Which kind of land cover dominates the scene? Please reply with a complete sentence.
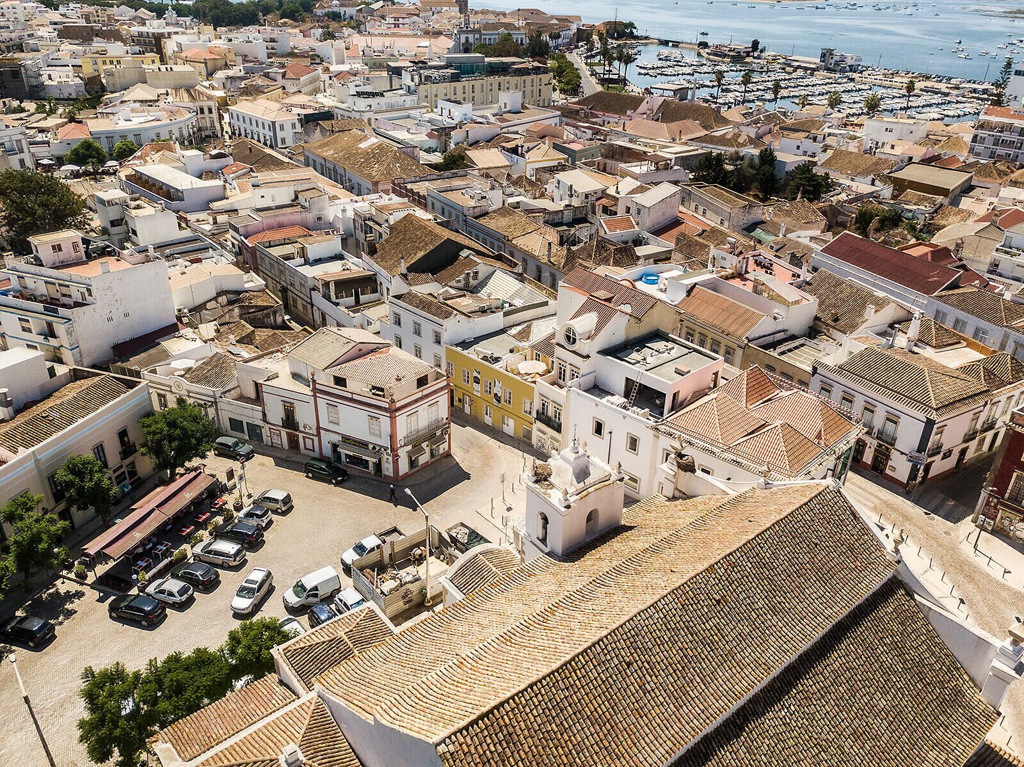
Most of the picture is covered by buildings.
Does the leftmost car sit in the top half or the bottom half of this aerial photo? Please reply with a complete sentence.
The leftmost car sits in the bottom half of the picture.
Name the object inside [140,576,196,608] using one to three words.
car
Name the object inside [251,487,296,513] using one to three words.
car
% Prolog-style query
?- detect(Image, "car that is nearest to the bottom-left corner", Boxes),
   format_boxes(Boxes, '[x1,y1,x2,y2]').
[0,613,57,648]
